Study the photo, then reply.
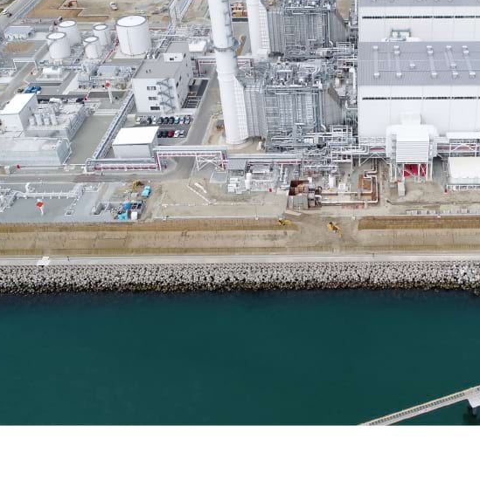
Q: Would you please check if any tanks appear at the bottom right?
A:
No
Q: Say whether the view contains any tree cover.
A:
No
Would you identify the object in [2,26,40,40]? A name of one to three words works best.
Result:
shed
